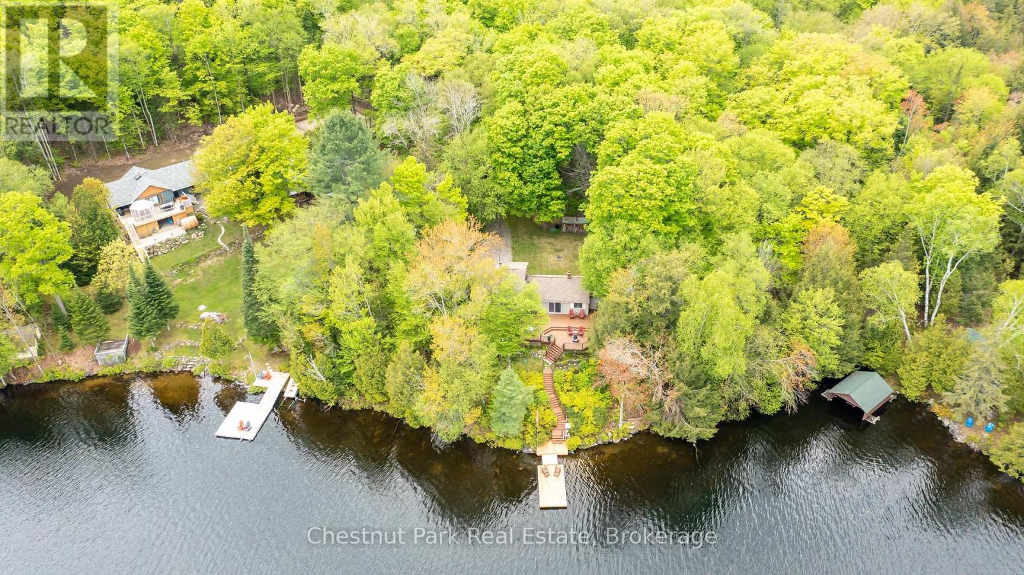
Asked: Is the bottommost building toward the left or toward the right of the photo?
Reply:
right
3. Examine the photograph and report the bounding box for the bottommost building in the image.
[821,372,894,441]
